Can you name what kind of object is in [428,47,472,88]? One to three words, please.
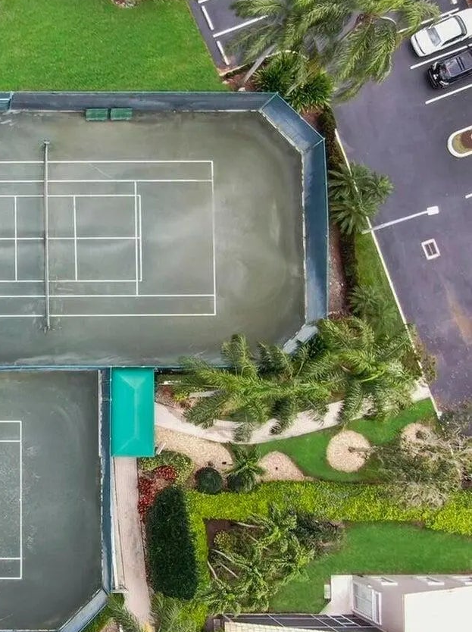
car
